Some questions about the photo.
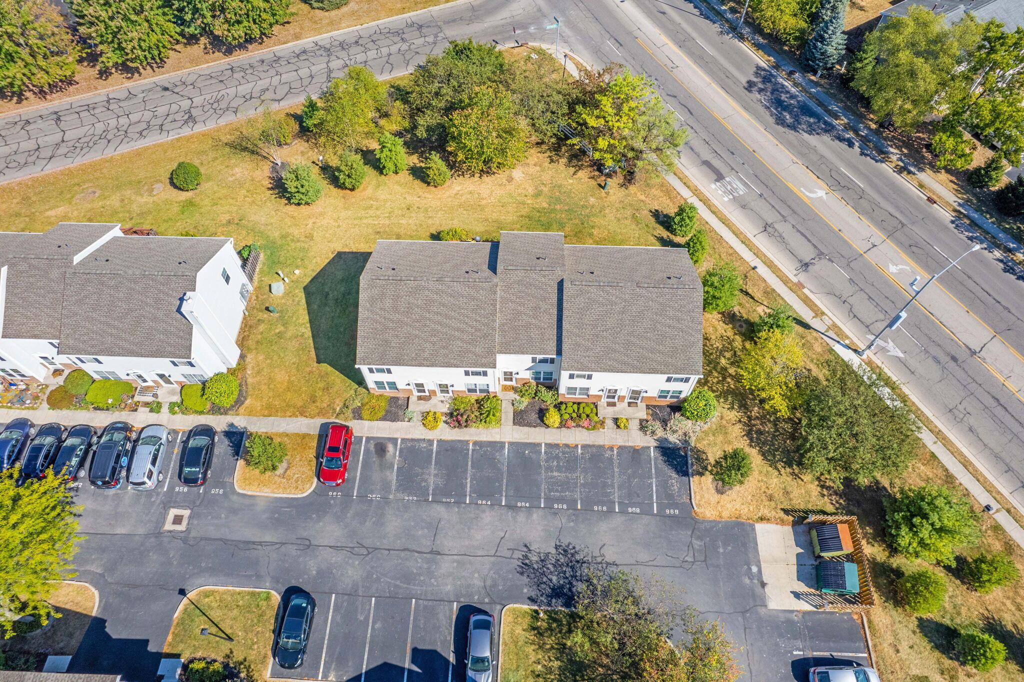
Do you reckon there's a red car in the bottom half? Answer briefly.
Yes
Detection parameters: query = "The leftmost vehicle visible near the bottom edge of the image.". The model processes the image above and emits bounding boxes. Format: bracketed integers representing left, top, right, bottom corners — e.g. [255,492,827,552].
[274,594,316,674]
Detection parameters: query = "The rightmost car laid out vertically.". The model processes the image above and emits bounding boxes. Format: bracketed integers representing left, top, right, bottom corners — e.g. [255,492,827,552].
[464,613,498,682]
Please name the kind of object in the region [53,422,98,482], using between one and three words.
car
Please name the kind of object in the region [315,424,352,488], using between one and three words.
car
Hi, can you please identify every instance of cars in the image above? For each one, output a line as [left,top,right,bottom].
[85,423,136,491]
[178,426,220,491]
[274,594,316,674]
[53,422,98,482]
[464,613,498,682]
[0,418,39,479]
[18,422,67,486]
[125,427,172,491]
[315,424,352,488]
[807,666,883,682]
